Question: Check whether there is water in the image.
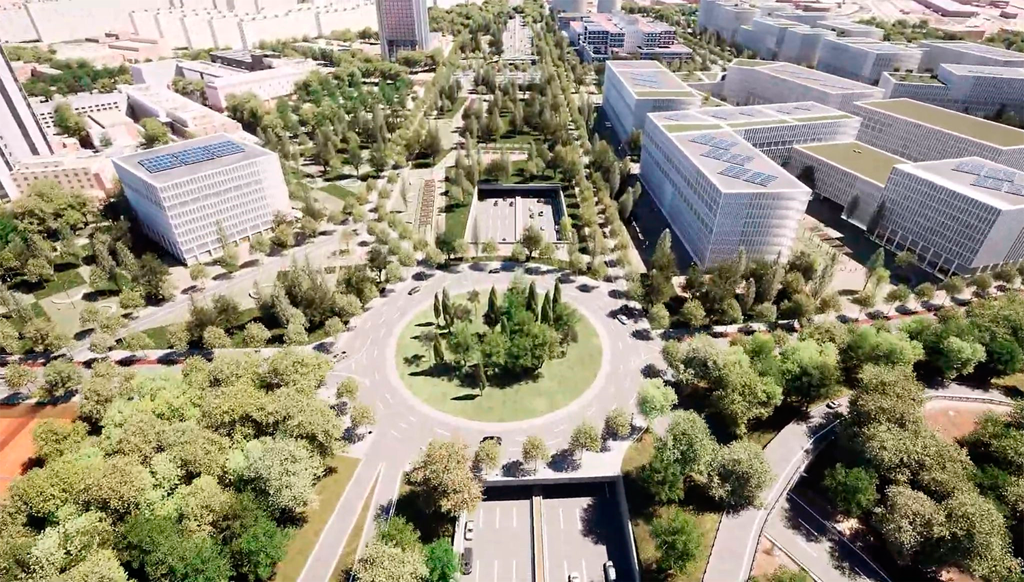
No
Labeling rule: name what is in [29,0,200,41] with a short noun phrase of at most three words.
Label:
building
